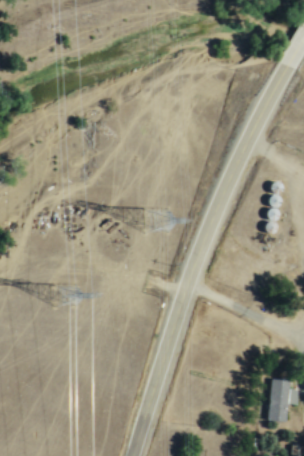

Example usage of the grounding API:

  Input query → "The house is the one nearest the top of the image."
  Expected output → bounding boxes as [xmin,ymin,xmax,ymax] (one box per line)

[267,378,300,421]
